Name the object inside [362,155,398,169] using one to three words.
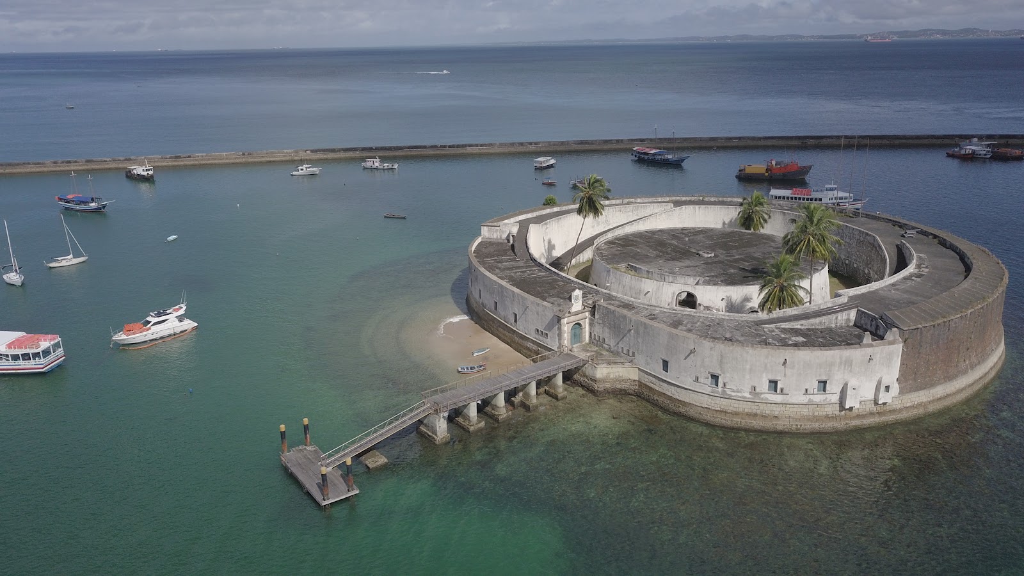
boat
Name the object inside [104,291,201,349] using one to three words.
boat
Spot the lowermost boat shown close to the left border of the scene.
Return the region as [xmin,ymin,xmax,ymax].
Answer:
[0,331,63,373]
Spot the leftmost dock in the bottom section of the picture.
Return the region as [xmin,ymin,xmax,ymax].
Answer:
[279,444,364,510]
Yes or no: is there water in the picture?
Yes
